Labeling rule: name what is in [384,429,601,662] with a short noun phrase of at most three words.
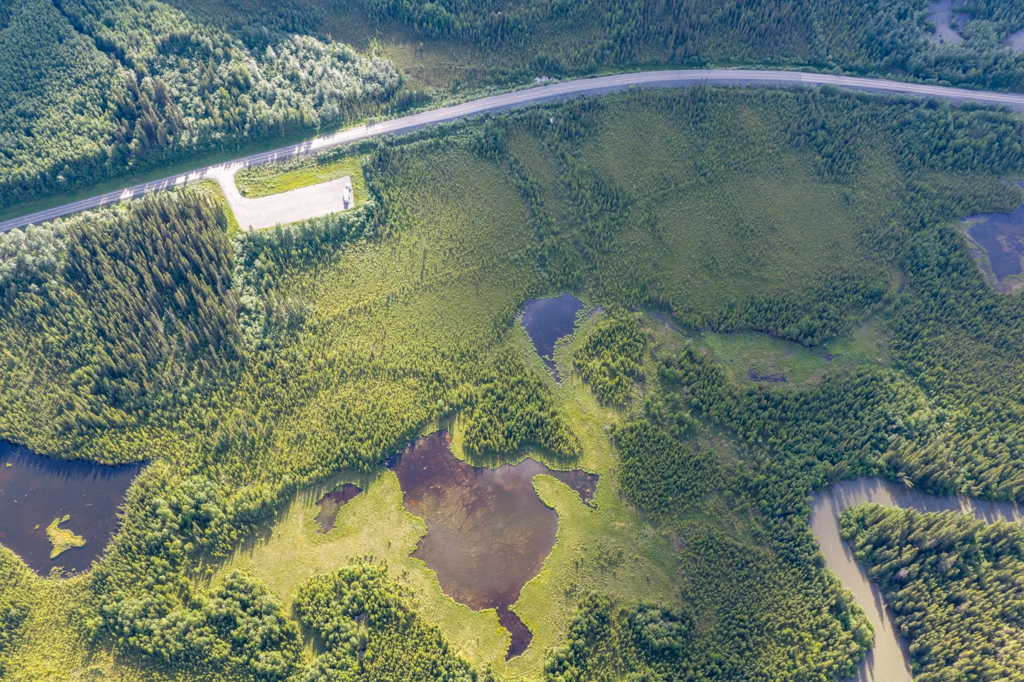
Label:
pond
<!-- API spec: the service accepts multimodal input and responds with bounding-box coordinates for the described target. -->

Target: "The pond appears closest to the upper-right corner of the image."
[521,294,583,382]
